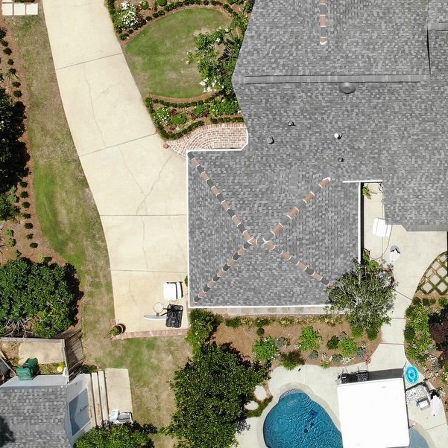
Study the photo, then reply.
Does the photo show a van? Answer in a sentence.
No, there appears to be no van in this shot.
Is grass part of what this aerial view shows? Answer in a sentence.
Yes, the picture does contain grass.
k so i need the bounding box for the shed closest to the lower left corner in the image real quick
[0,373,90,448]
